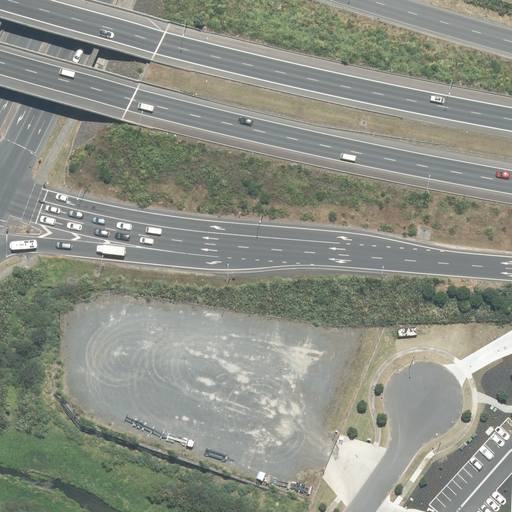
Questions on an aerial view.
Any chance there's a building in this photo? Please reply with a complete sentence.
No, there's no building here.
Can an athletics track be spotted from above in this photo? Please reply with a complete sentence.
No, this view has no athletics track in it.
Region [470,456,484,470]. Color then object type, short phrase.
white vehicle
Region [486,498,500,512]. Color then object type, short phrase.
white car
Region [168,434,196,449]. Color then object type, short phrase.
white vehicle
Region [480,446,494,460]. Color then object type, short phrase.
white car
